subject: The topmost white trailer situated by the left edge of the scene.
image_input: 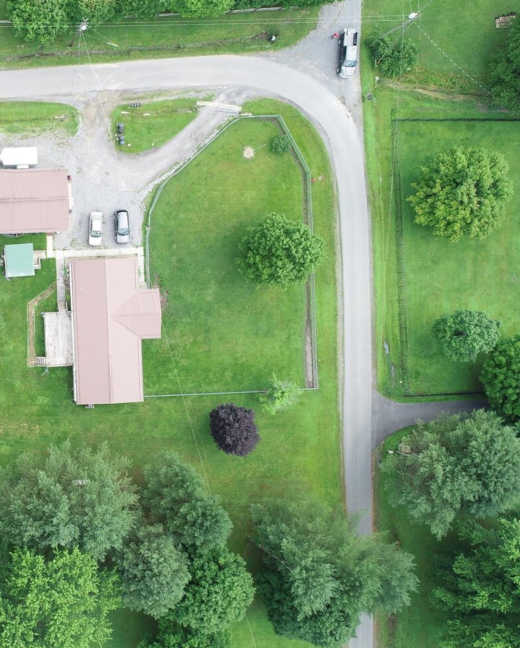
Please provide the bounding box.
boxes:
[0,146,39,169]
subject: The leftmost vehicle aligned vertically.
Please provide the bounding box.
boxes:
[87,211,103,246]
